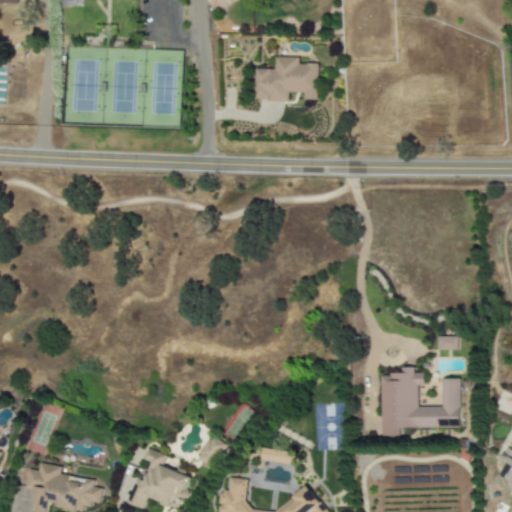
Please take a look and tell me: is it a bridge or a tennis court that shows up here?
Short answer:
tennis court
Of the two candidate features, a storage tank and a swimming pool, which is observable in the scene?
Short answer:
swimming pool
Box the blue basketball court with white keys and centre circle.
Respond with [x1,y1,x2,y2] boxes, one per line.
[316,404,344,450]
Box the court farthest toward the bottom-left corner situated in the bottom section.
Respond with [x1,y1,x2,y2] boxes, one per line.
[26,404,64,455]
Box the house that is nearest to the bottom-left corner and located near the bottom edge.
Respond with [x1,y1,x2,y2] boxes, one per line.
[16,461,106,512]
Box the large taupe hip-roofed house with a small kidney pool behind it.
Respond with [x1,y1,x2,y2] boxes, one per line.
[256,56,319,101]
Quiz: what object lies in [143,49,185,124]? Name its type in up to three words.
tennis court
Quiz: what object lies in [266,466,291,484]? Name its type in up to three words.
swimming pool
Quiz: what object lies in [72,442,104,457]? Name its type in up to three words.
swimming pool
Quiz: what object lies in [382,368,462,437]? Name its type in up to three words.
house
